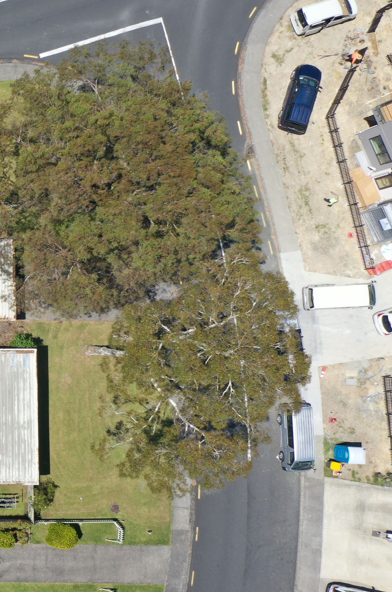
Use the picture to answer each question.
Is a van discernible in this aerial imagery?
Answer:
Yes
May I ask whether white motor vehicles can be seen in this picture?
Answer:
Yes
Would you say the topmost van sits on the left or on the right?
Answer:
right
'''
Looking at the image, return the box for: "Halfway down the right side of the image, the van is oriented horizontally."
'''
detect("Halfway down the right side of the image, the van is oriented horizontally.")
[304,279,379,310]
